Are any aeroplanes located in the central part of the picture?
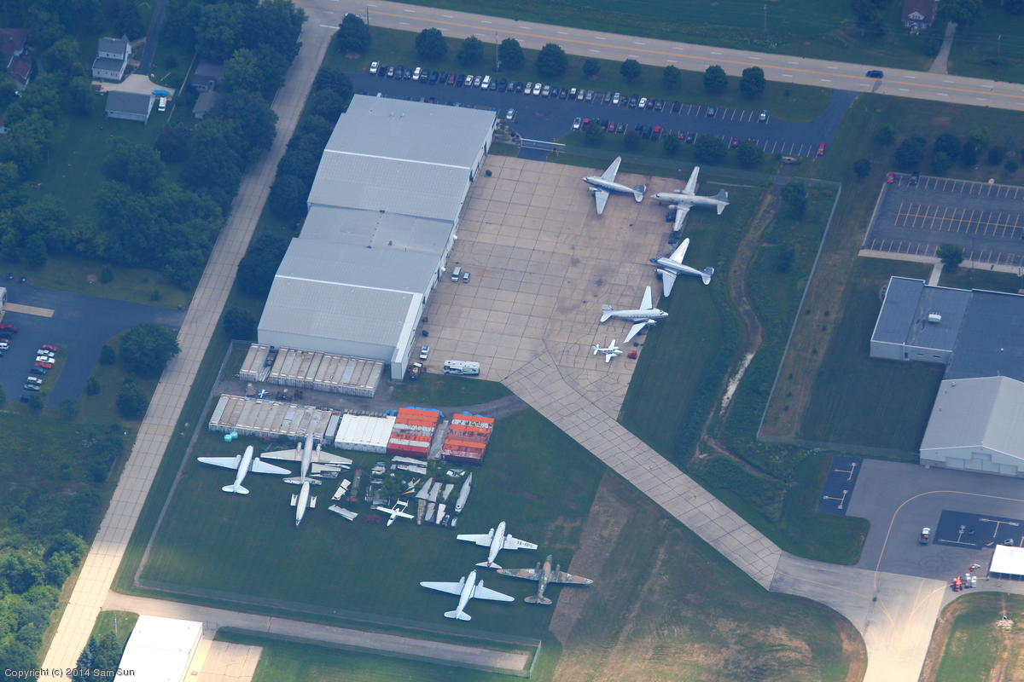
Yes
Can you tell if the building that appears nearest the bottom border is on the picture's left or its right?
left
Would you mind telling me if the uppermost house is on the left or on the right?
right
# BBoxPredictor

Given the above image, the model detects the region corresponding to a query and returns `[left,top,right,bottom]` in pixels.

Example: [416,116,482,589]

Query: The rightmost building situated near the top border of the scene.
[901,0,938,37]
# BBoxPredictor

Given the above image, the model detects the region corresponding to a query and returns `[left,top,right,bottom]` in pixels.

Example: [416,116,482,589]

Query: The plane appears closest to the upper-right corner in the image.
[653,166,729,225]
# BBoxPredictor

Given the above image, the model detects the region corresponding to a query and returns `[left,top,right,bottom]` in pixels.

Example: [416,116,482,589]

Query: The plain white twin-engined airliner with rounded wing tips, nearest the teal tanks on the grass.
[197,445,292,493]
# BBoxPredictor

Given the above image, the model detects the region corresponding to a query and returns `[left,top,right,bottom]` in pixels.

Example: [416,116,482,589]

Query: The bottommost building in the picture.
[114,614,203,682]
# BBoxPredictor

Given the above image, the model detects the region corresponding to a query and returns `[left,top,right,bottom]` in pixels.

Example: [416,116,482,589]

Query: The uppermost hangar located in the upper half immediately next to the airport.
[306,93,497,234]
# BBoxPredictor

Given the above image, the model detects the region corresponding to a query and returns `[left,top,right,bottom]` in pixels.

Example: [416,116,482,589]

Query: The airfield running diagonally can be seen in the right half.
[405,151,1024,682]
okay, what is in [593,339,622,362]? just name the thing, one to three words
airplane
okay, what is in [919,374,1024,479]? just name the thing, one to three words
hangar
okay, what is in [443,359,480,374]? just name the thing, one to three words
vehicle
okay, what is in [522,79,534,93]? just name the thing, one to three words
vehicle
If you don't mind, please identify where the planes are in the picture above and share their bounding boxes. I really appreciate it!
[419,570,515,619]
[583,158,645,213]
[602,287,667,343]
[260,437,352,486]
[197,445,292,493]
[593,339,622,362]
[496,555,594,604]
[653,166,729,225]
[456,522,538,570]
[650,239,712,296]
[254,388,271,399]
